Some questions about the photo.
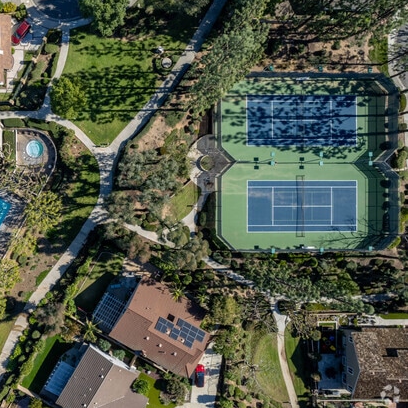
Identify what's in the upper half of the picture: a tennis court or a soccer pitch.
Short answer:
tennis court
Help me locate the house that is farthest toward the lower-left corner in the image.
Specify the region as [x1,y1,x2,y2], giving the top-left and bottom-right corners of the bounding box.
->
[49,340,150,408]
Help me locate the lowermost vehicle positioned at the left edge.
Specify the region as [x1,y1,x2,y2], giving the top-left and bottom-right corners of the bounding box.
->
[13,21,32,46]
